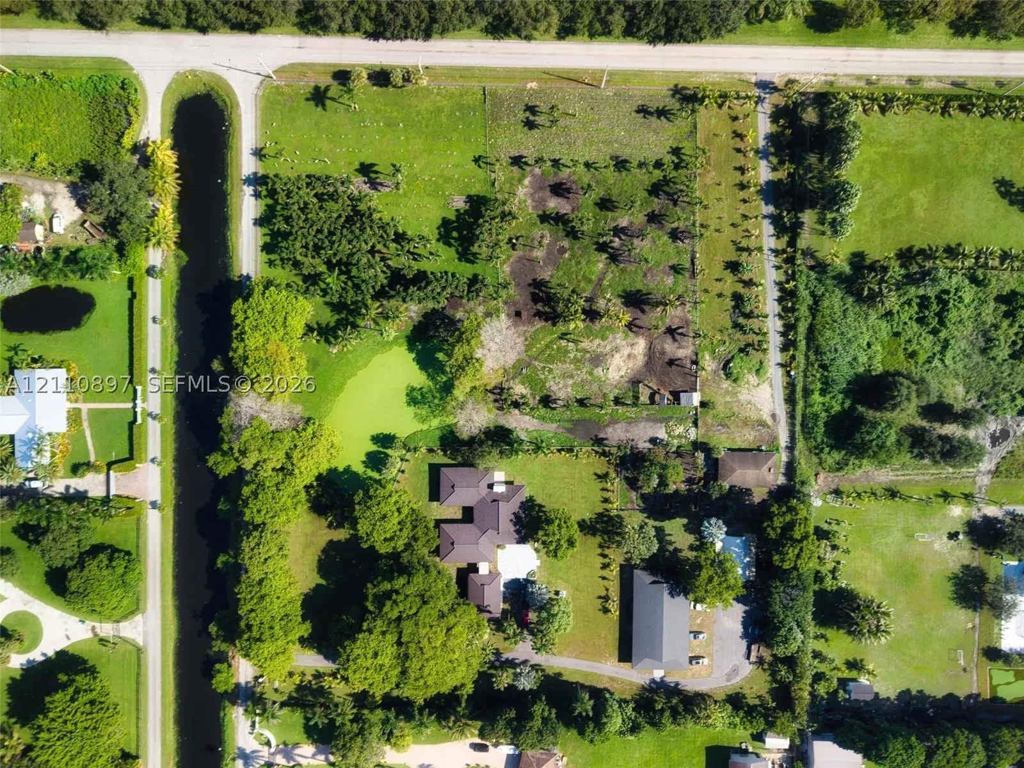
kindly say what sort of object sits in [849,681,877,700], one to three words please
shed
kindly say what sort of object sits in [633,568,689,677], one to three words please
barn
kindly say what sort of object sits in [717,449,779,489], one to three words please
house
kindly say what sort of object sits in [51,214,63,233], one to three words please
vehicle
